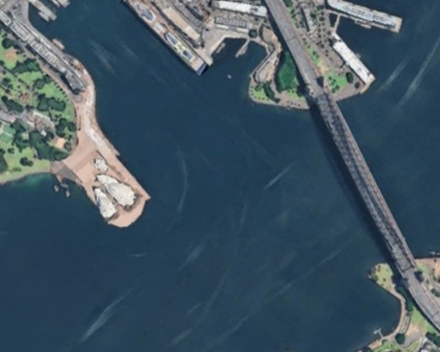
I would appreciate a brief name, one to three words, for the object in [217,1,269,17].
building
